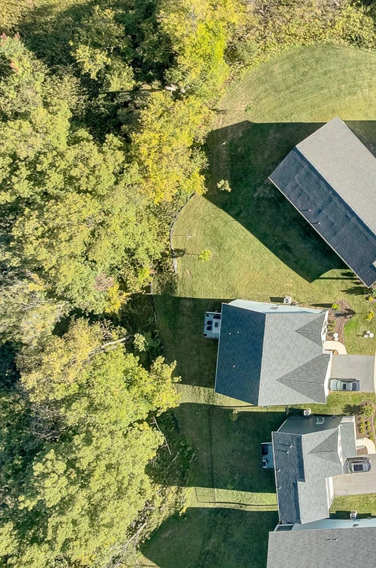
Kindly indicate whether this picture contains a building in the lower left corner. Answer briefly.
No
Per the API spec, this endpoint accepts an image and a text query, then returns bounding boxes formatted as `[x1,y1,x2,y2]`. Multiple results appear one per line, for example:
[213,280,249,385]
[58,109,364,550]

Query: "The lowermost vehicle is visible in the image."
[344,458,373,474]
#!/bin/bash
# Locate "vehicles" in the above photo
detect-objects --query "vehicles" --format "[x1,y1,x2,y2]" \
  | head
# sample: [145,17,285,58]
[331,378,360,392]
[344,458,373,474]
